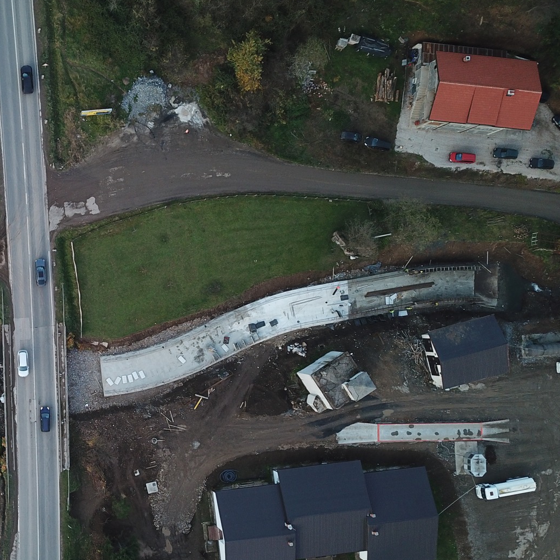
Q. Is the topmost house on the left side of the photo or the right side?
right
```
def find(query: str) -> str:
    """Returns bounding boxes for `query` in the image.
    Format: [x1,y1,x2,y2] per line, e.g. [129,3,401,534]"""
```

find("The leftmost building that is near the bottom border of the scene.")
[196,458,437,560]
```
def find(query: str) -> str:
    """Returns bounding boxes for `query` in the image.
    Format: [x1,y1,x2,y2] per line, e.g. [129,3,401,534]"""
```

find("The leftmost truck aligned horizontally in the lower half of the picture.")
[479,478,546,506]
